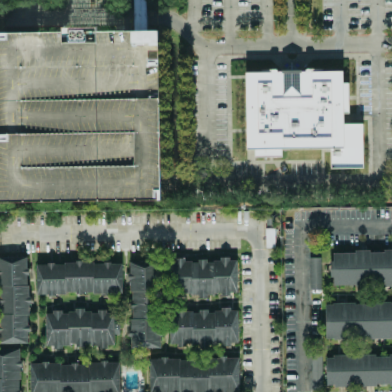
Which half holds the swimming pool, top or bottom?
bottom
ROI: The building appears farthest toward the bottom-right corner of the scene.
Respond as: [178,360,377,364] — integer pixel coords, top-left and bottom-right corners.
[326,356,392,391]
